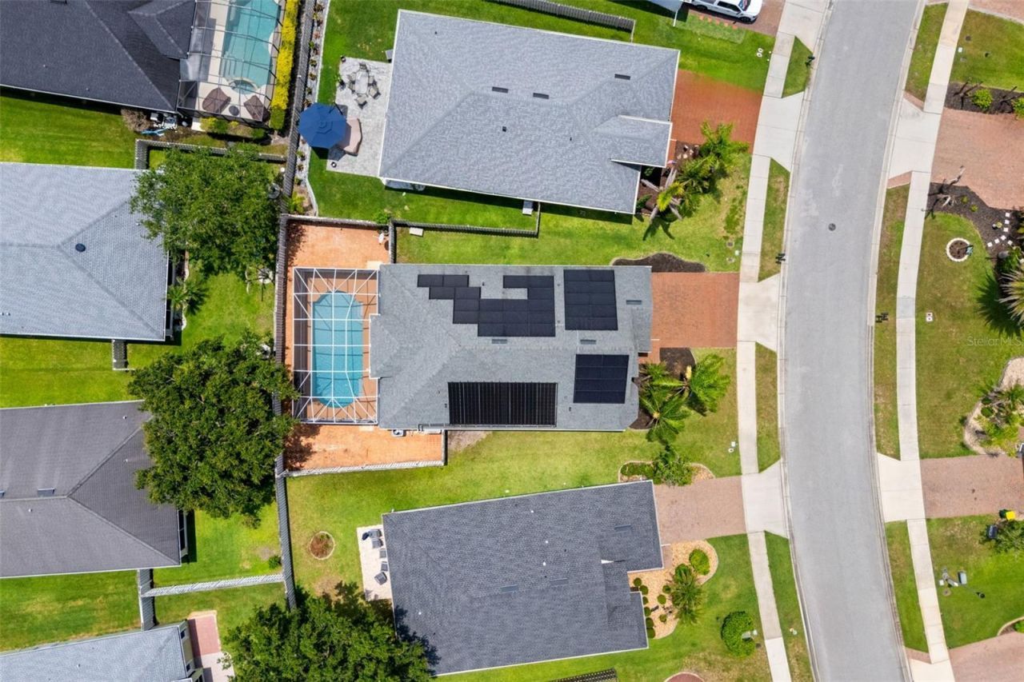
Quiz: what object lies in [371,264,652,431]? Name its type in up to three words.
house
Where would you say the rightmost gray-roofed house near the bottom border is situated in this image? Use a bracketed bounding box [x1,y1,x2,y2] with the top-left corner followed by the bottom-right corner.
[382,479,663,680]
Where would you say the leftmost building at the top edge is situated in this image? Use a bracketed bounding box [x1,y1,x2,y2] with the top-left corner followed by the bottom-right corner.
[0,0,205,114]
